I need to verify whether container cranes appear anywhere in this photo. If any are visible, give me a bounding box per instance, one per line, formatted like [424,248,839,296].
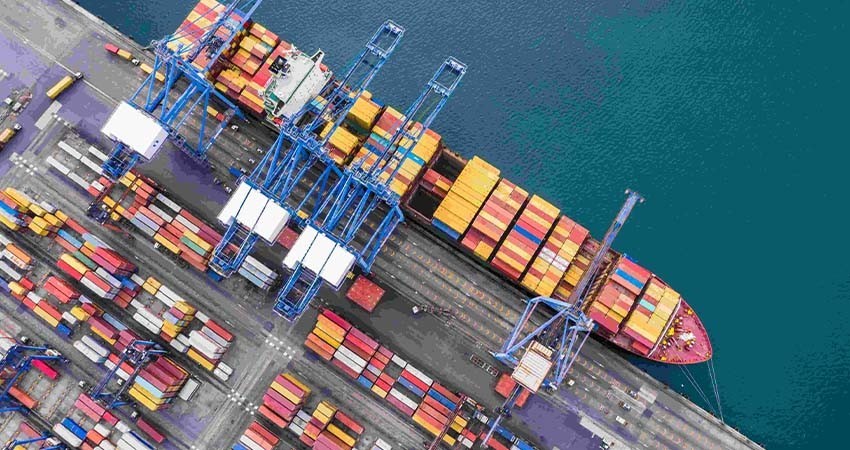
[417,389,475,450]
[82,169,167,242]
[5,428,66,450]
[266,54,471,325]
[204,17,409,280]
[0,342,63,413]
[480,188,648,443]
[90,337,174,411]
[85,0,259,195]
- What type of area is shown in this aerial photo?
port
